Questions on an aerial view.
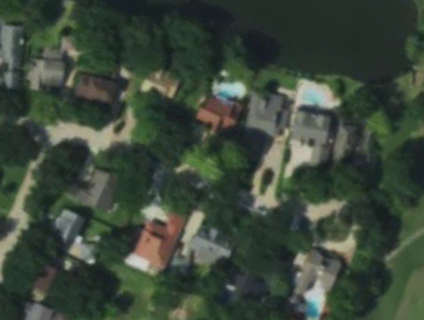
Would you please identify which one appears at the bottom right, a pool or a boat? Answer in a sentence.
It is a pool that can be seen at the bottom right.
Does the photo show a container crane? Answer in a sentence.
No, the photo shows no container crane.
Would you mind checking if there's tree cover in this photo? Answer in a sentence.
Yes, the picture does contain tree cover.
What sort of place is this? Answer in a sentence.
What you see here is a residential area.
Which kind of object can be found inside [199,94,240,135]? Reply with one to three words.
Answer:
house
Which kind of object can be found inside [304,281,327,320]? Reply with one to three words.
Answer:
swimming pool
